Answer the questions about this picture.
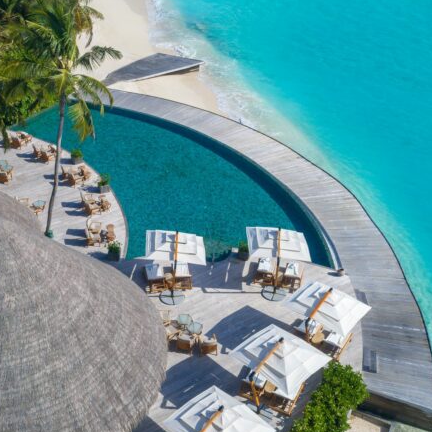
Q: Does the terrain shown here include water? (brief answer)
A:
Yes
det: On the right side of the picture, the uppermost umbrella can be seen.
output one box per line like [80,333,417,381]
[246,228,311,306]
